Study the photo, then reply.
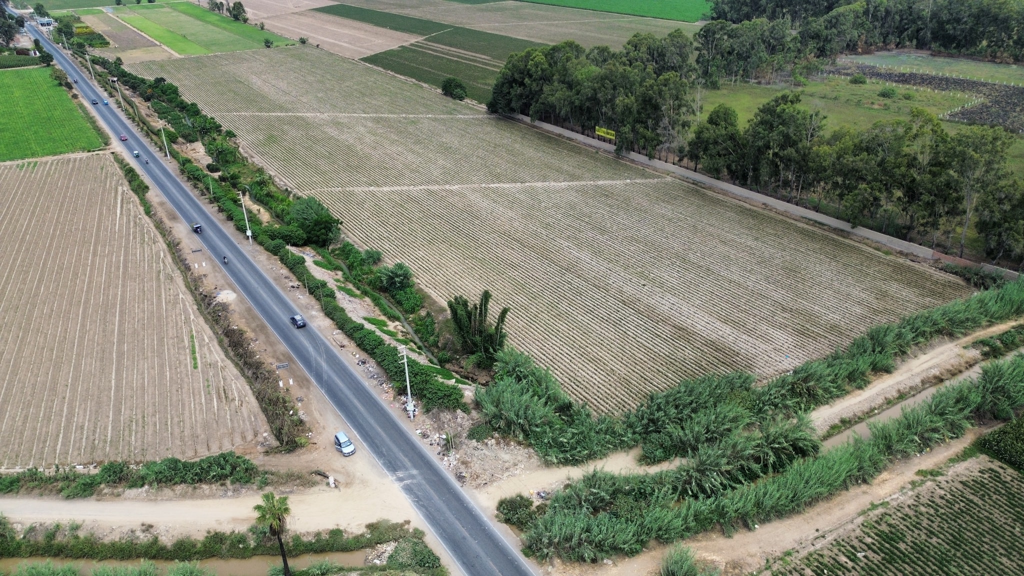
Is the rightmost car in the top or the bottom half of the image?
bottom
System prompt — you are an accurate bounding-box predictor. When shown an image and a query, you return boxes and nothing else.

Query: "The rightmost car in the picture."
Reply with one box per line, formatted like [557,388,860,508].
[333,430,356,454]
